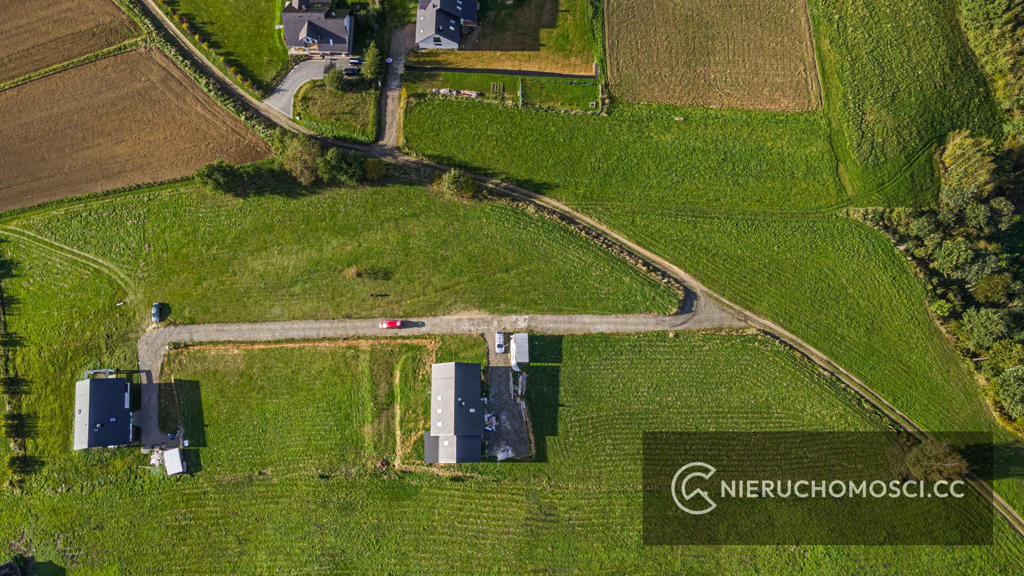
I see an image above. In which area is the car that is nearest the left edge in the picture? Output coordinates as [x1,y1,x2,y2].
[148,302,161,323]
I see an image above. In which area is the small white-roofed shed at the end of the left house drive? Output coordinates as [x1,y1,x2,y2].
[164,448,188,475]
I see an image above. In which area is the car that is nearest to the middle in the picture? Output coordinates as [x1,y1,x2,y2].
[494,331,509,355]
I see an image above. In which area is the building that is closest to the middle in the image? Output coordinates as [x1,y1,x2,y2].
[423,361,485,463]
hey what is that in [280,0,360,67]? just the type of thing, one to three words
house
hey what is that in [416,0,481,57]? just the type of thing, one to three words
house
